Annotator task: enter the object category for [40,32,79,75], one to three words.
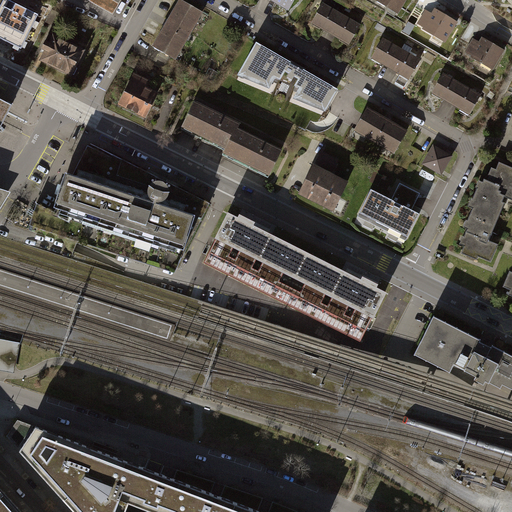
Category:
house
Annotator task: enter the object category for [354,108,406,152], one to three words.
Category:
house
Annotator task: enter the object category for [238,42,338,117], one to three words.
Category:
building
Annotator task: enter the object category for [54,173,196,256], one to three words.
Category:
building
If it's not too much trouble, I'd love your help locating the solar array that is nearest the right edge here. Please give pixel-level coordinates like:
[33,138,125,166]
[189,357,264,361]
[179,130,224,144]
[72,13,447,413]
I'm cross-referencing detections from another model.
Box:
[362,192,416,234]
